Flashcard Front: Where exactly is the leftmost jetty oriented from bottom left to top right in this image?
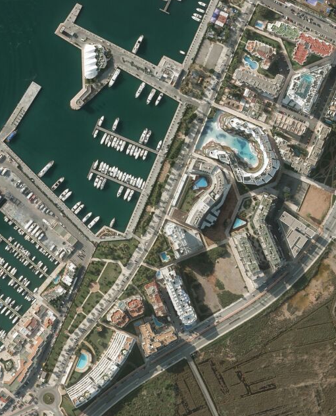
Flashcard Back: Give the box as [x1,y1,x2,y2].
[0,82,41,152]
